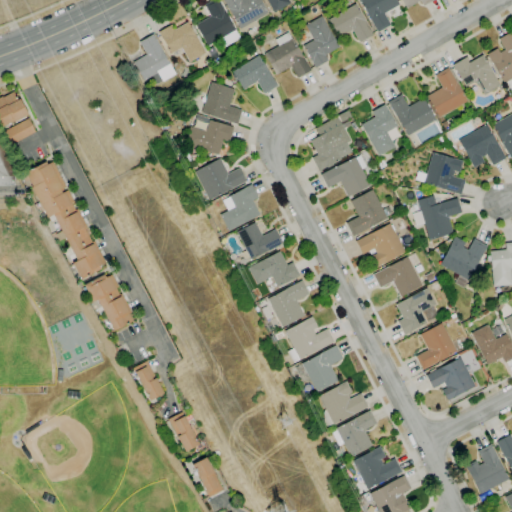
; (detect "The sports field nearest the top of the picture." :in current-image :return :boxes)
[0,269,53,388]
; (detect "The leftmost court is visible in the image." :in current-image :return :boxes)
[50,314,104,380]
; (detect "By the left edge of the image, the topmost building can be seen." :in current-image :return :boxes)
[0,90,29,126]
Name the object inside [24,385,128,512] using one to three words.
baseball field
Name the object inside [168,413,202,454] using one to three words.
house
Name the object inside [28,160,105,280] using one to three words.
house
